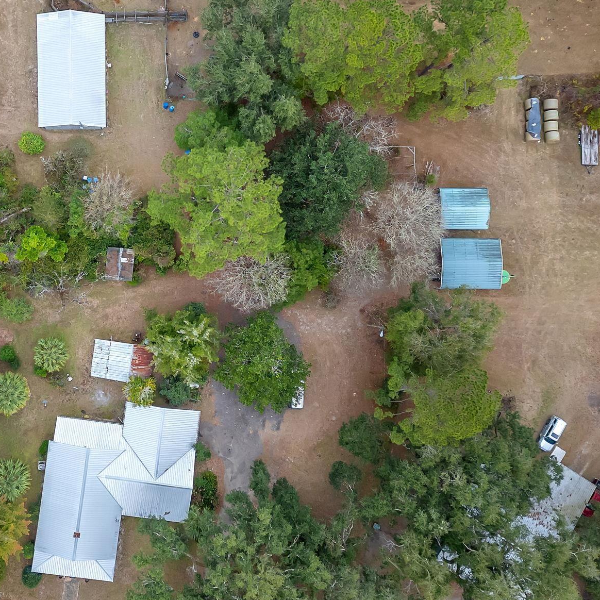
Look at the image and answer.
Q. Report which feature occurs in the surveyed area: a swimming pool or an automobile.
automobile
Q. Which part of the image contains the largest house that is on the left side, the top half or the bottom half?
bottom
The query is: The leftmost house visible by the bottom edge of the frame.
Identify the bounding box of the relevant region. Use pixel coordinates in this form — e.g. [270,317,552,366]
[31,402,201,582]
